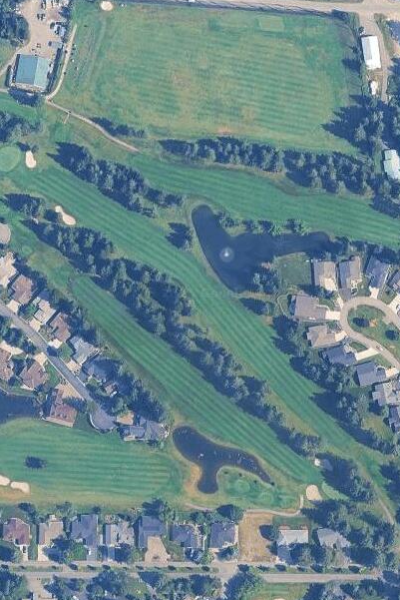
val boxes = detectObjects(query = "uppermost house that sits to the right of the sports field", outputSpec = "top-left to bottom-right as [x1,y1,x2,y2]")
[363,35,382,71]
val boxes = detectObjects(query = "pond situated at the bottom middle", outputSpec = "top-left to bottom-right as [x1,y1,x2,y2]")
[172,426,274,493]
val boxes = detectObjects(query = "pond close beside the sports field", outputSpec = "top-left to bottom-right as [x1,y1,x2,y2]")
[191,204,347,291]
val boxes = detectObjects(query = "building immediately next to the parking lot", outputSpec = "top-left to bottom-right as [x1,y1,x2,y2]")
[16,55,50,94]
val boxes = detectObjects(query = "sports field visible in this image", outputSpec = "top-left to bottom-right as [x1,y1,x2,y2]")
[57,1,358,154]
